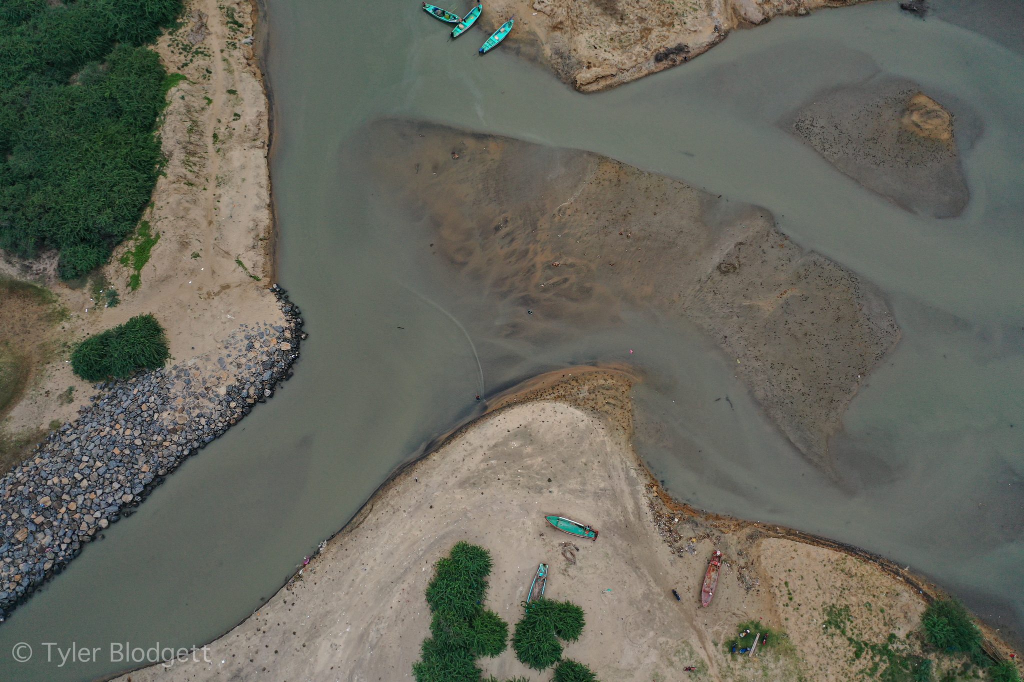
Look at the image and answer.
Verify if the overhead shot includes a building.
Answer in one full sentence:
No, the picture doesn't show any building.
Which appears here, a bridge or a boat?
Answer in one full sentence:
I can see a boat in this picture.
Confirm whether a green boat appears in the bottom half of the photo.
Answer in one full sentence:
Yes, a green boat can be seen in the bottom half of the photo.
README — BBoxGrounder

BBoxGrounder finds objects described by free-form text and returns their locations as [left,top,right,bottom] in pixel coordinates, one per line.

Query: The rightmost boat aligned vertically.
[703,552,723,608]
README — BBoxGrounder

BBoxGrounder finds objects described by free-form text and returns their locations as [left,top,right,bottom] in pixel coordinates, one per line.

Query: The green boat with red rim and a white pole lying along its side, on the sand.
[545,516,599,540]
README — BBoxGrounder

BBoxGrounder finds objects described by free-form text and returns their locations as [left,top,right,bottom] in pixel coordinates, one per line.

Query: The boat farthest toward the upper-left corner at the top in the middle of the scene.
[416,1,461,22]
